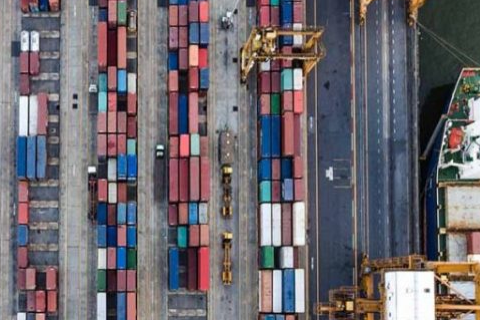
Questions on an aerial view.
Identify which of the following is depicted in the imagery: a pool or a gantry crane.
gantry crane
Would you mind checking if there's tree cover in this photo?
No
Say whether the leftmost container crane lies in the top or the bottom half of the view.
top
